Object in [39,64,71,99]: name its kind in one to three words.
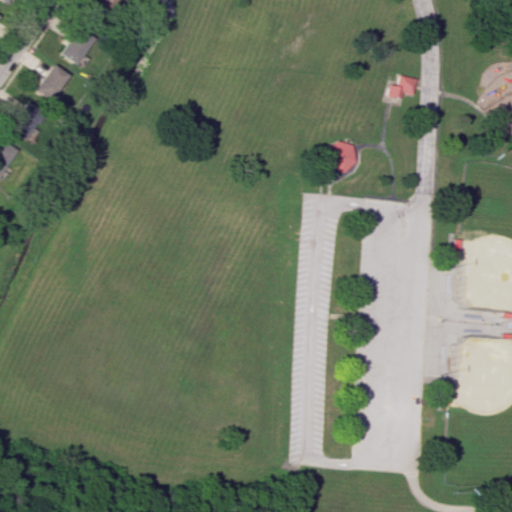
house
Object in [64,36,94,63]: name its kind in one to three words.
house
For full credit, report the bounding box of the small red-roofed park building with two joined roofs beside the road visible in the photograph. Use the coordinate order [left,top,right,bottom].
[386,74,420,98]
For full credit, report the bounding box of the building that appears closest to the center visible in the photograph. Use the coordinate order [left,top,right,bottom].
[328,141,358,175]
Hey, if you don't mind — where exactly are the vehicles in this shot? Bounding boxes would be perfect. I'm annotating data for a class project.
[36,66,45,74]
[42,62,51,70]
[9,62,17,72]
